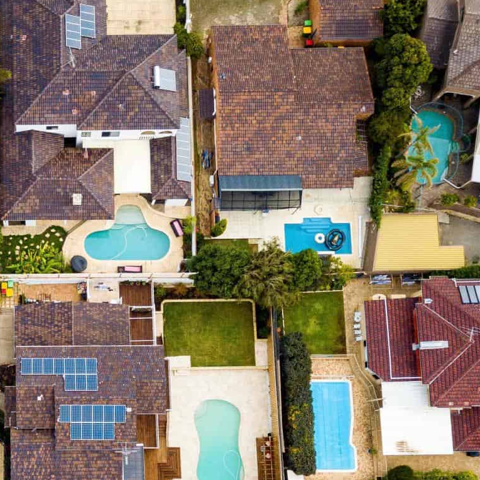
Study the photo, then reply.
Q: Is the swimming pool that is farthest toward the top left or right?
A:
right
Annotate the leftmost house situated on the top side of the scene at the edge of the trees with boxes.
[0,0,192,224]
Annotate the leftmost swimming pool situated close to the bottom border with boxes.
[191,396,248,480]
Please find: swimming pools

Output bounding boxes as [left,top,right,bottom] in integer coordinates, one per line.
[283,215,353,256]
[81,201,174,264]
[191,396,248,480]
[311,379,359,472]
[403,105,458,188]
